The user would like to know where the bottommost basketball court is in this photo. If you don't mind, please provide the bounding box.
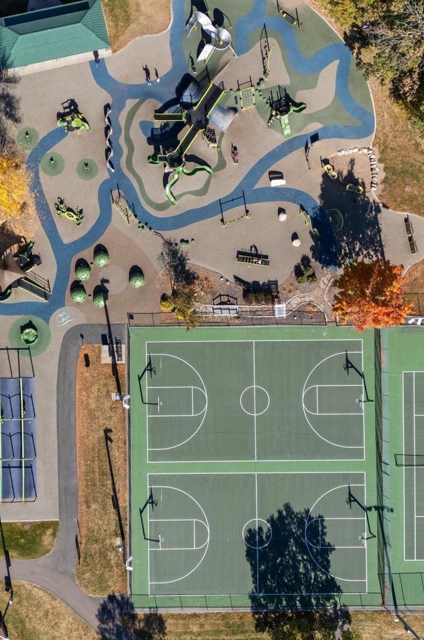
[148,472,368,595]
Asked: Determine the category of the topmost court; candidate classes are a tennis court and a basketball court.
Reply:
basketball court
